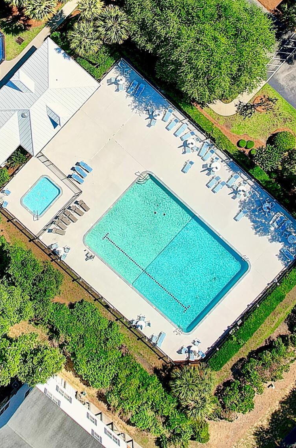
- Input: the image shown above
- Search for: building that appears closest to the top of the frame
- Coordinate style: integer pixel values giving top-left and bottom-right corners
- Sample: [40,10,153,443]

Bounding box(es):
[0,37,100,166]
